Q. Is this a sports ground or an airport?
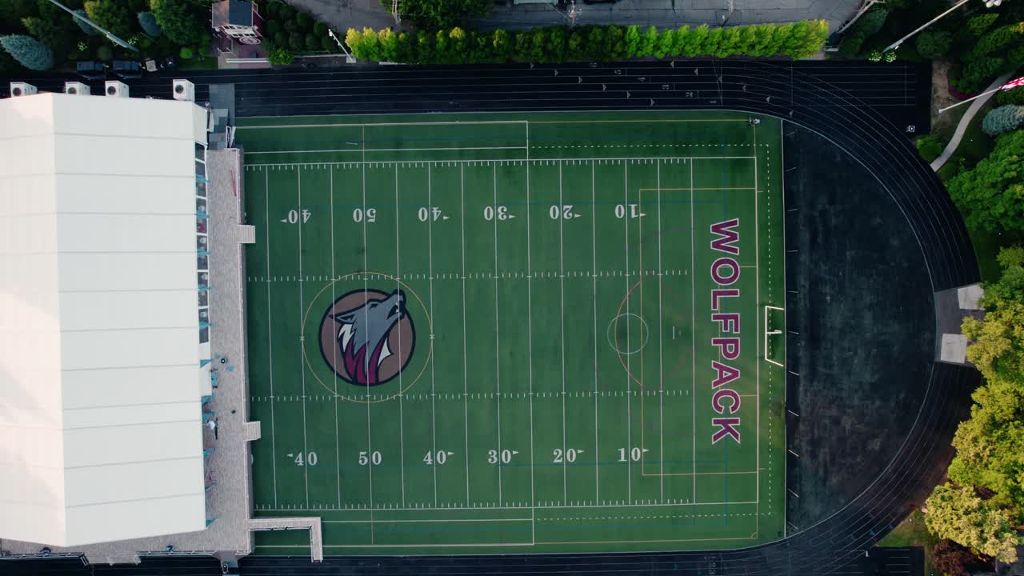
sports ground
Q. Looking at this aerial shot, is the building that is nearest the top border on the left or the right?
left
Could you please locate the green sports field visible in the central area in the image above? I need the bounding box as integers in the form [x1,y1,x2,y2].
[237,109,785,557]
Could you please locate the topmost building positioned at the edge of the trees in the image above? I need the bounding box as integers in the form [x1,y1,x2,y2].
[211,0,266,42]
